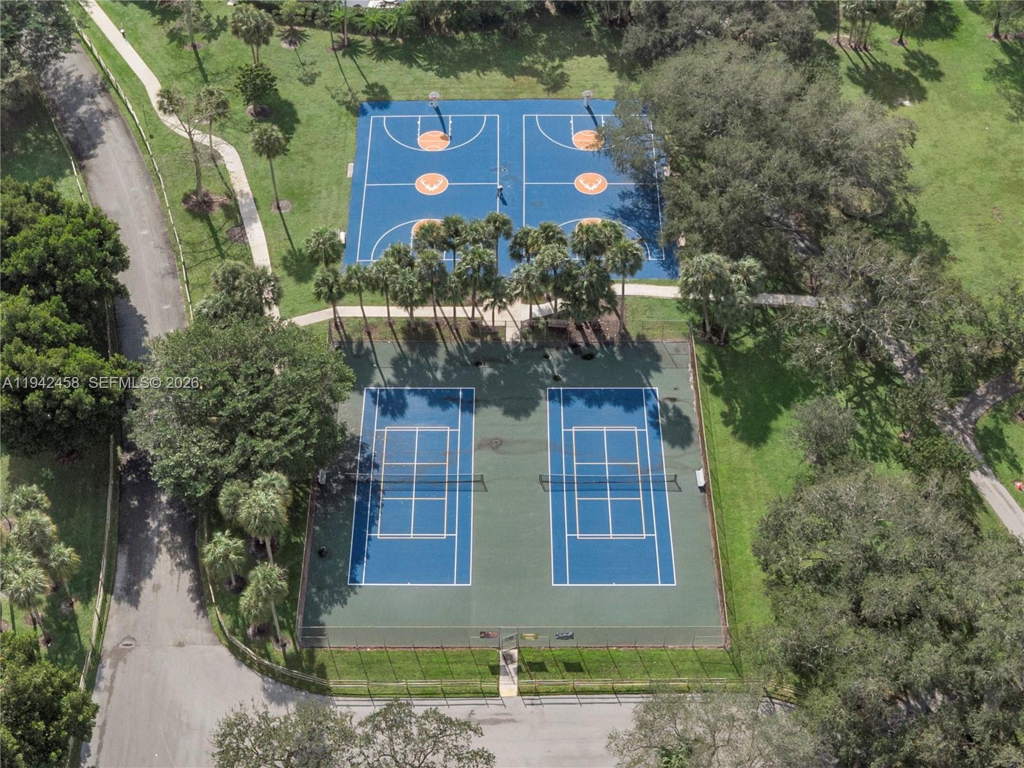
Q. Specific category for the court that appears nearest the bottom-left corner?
tennis court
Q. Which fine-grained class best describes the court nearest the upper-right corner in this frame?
basketball court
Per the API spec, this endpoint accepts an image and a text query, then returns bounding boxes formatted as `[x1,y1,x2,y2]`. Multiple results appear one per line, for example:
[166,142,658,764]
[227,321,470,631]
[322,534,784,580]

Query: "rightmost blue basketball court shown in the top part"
[523,115,665,262]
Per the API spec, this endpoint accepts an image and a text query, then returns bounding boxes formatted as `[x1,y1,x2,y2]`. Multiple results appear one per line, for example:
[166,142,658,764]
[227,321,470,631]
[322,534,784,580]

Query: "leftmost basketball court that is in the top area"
[358,115,499,262]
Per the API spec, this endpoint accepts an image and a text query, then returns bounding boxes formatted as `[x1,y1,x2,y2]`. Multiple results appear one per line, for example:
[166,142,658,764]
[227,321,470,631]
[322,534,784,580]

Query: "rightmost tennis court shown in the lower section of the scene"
[547,388,676,585]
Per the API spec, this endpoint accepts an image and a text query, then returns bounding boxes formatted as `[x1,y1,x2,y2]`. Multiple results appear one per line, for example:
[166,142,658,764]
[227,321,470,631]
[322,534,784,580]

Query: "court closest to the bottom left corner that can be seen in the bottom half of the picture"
[348,387,475,585]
